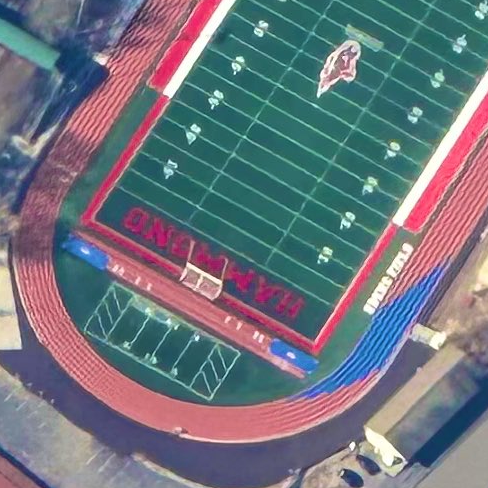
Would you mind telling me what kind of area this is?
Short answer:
sports ground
